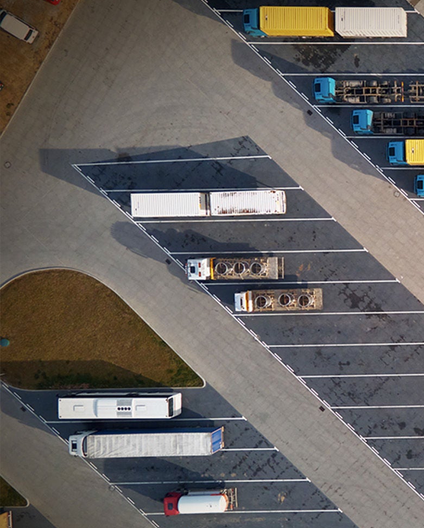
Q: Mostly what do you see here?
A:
paved ground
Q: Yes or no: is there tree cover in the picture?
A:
No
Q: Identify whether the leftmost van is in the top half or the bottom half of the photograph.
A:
top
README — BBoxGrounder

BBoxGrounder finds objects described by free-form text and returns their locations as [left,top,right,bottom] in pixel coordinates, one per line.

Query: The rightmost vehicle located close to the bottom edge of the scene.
[163,486,238,516]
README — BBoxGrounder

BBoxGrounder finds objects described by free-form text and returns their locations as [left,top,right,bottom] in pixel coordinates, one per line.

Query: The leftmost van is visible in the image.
[0,10,42,45]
